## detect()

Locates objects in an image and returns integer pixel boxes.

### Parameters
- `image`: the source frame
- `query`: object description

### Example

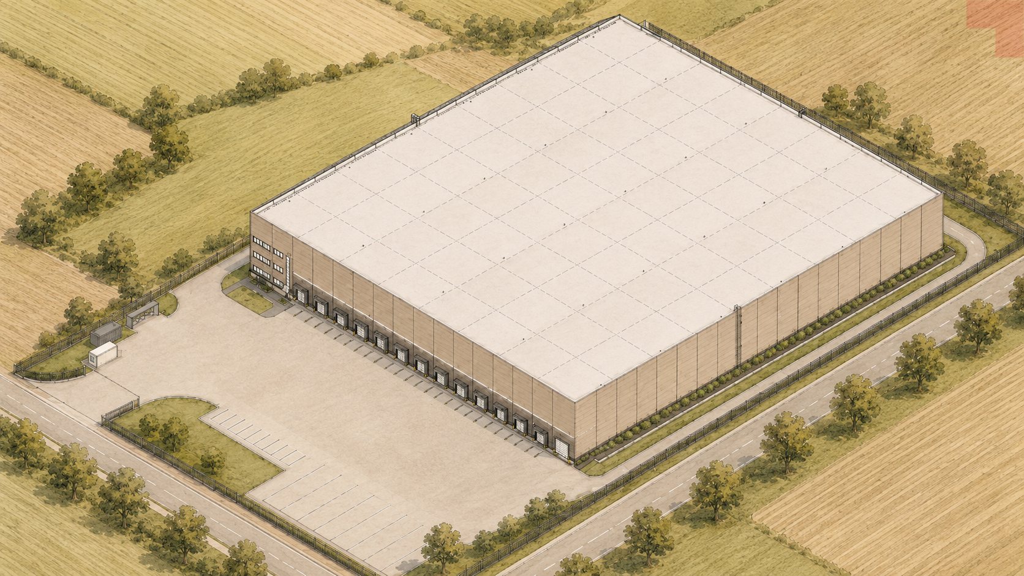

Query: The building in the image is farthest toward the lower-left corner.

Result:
[88,339,118,367]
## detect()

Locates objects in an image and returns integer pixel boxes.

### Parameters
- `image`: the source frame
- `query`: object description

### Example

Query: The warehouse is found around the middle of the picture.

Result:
[248,11,943,461]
